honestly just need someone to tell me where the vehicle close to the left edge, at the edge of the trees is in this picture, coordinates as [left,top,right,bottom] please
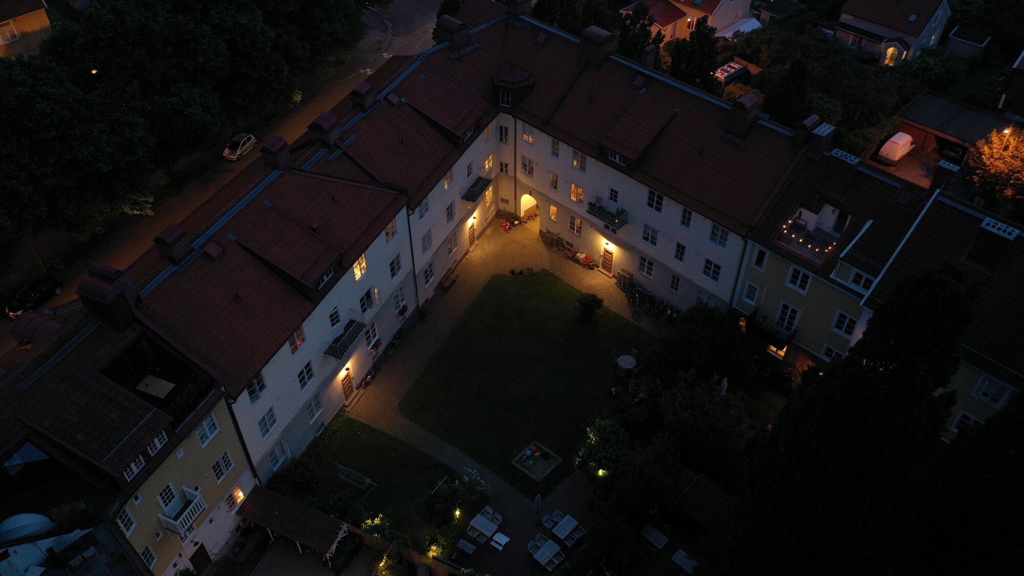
[3,269,63,312]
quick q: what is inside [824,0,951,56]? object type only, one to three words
house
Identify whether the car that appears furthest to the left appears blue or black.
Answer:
black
